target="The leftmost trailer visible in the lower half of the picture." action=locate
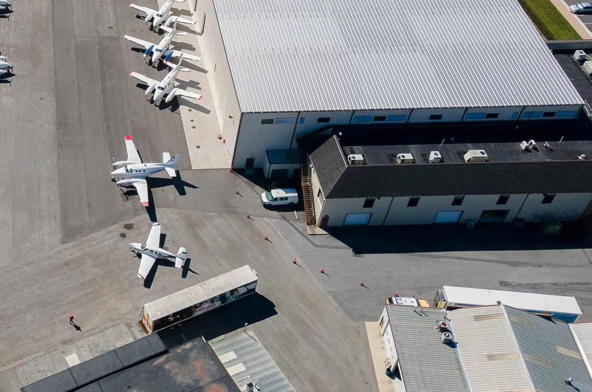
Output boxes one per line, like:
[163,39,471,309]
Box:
[135,265,258,339]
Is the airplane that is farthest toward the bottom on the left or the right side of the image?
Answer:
left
